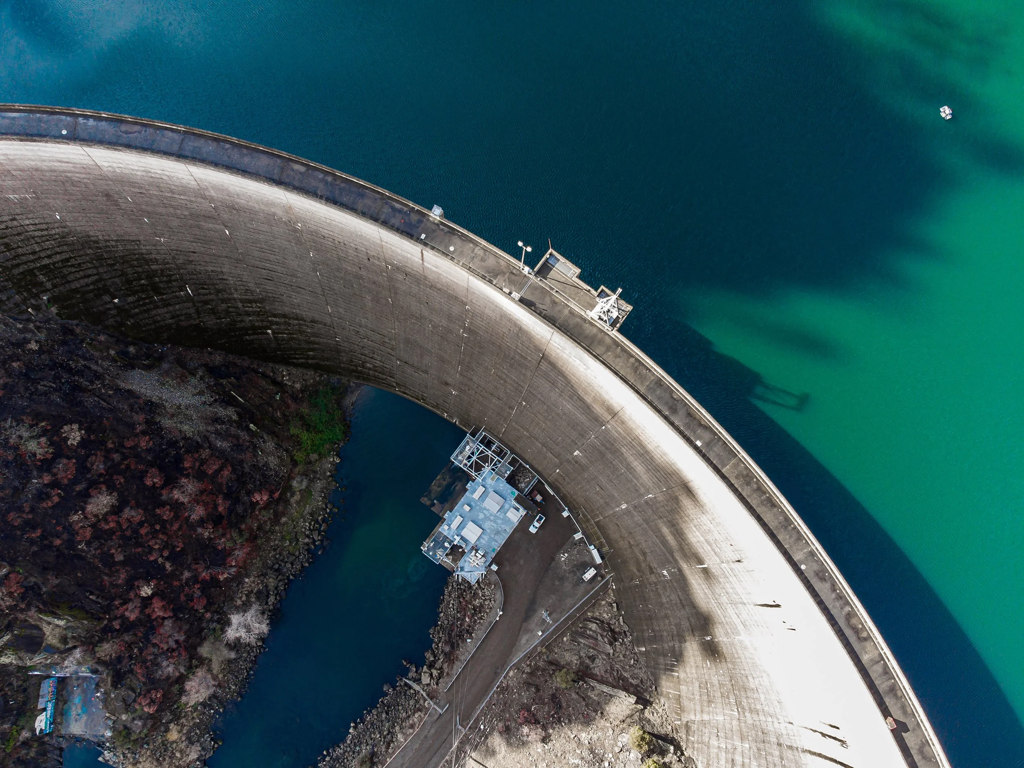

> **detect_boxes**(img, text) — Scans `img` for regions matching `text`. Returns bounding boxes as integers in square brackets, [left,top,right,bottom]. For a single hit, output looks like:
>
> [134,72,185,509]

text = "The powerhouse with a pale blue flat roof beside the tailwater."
[439,475,526,584]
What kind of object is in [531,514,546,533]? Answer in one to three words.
vehicle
